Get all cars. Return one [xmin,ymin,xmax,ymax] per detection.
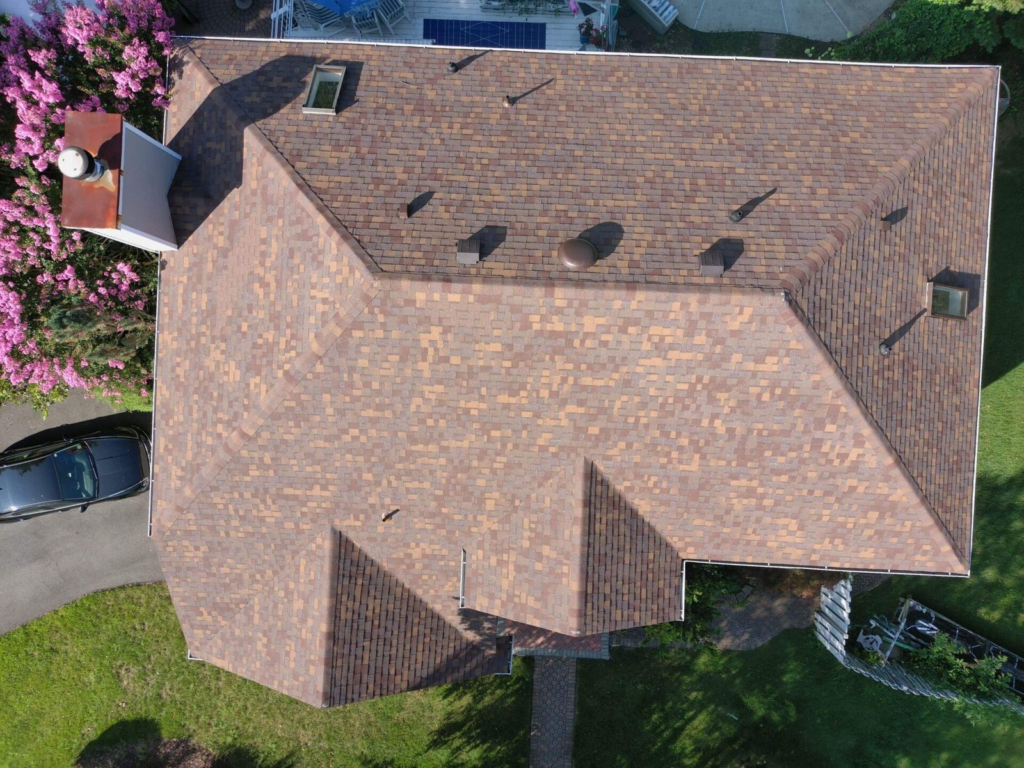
[0,419,151,519]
